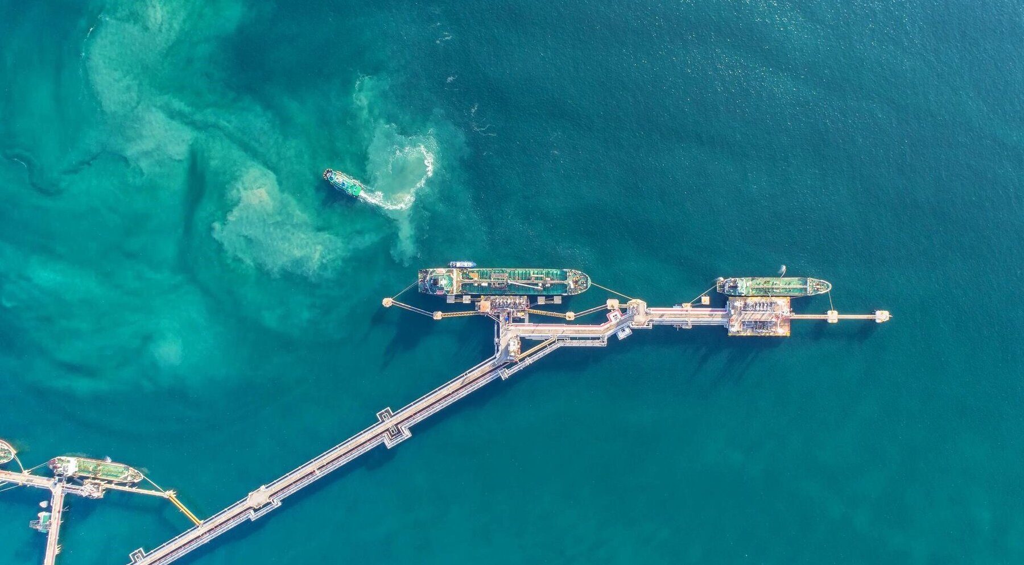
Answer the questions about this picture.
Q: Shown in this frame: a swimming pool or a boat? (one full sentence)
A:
The image shows a boat.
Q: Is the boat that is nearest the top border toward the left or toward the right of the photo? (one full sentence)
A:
The boat that is nearest the top border sits on the left side.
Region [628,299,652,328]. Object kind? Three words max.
pier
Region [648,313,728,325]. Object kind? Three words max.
pier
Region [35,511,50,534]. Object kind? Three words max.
boat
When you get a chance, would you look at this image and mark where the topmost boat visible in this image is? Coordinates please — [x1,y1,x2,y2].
[323,170,364,197]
